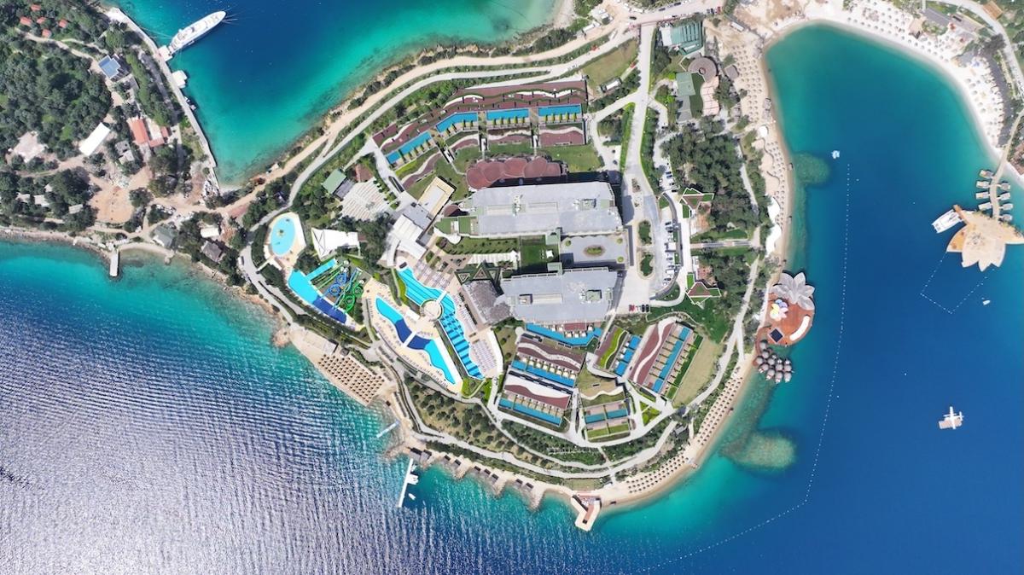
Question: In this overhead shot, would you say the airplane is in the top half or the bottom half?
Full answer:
It is in the bottom half that the airplane appears.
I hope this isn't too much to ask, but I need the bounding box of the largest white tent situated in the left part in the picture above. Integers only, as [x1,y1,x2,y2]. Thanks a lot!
[311,227,359,259]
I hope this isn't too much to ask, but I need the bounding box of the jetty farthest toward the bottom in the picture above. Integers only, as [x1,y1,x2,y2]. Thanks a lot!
[572,491,601,530]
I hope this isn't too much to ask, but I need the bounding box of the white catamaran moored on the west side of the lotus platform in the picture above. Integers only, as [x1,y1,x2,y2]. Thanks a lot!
[932,210,960,234]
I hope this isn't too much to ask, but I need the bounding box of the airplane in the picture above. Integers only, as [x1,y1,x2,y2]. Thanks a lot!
[945,405,968,430]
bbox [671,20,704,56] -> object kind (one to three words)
greenhouse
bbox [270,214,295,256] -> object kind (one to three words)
swimming pool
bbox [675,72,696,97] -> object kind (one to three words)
building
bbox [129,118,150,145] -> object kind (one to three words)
house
